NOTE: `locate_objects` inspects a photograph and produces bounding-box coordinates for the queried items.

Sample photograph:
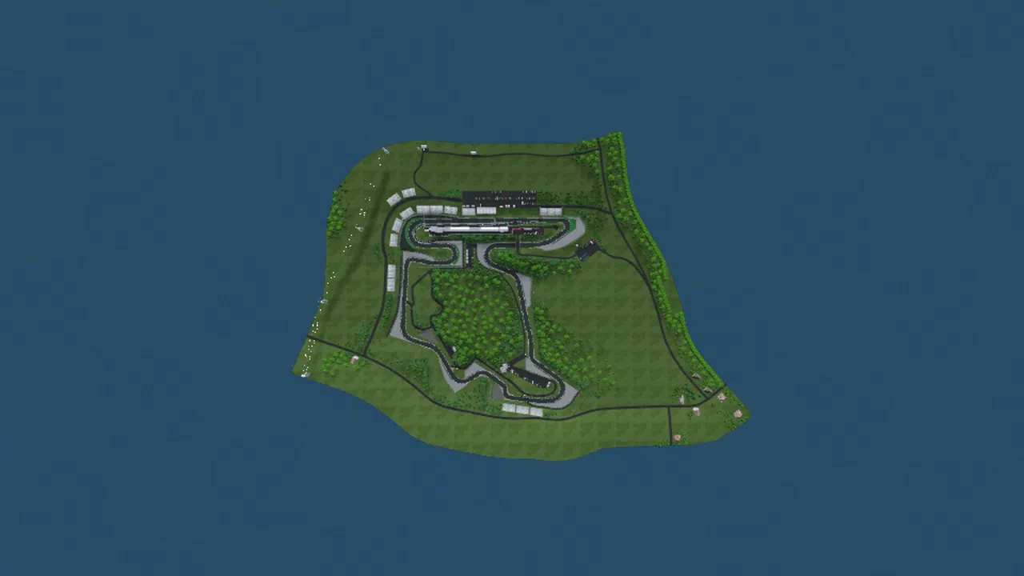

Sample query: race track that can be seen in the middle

[401,218,570,403]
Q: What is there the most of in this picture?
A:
water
